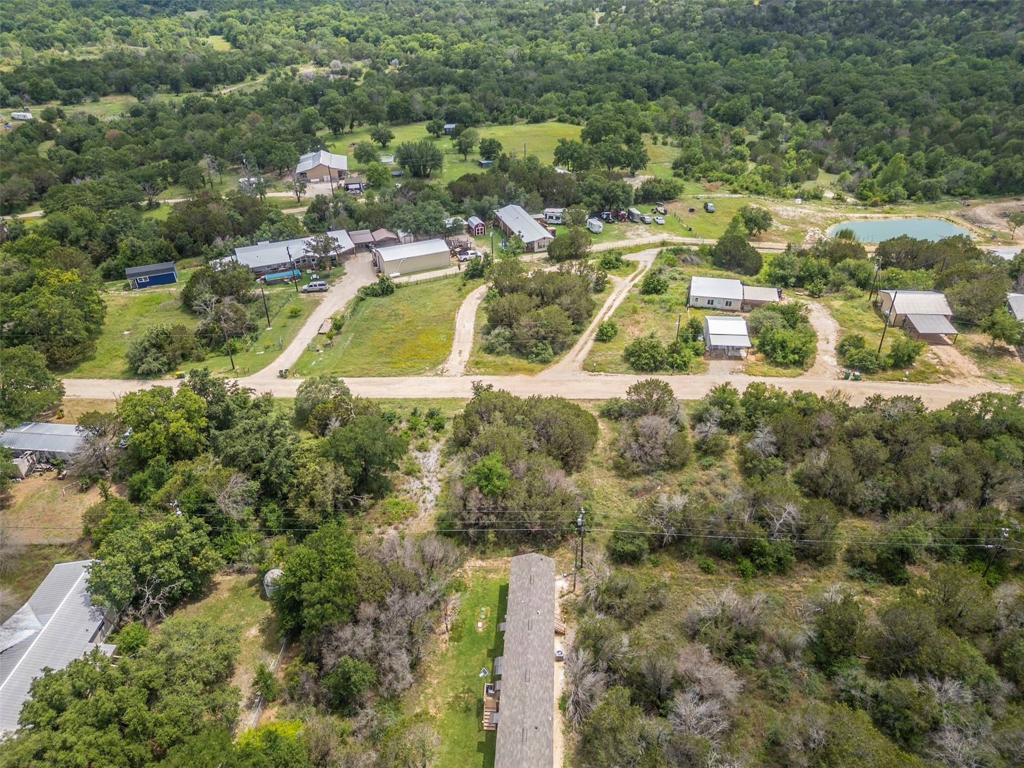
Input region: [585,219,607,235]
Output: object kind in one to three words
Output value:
vehicle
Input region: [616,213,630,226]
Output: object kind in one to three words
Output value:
vehicle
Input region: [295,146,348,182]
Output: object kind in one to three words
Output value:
house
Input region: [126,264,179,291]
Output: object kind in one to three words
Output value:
shed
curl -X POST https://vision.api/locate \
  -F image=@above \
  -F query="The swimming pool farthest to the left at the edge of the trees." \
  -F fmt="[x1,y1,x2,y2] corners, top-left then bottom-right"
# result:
[263,270,302,283]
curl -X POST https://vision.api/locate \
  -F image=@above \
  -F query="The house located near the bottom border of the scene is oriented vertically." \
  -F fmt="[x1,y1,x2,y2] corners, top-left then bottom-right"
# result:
[489,554,554,768]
